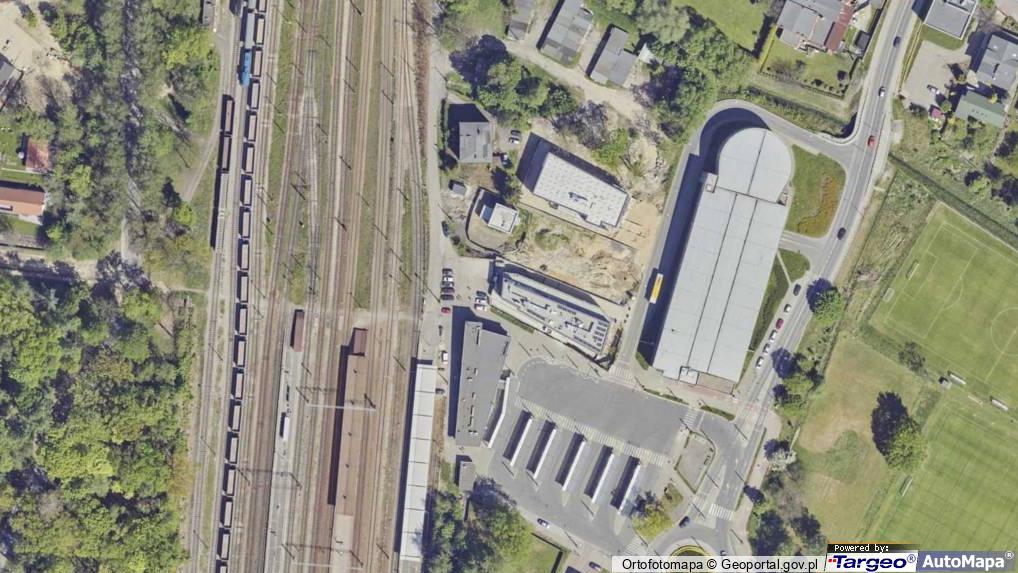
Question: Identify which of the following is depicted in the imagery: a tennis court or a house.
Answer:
house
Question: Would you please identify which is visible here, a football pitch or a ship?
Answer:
football pitch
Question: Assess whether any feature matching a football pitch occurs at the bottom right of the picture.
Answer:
Yes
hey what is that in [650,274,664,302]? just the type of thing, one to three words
vehicle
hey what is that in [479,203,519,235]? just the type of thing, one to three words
house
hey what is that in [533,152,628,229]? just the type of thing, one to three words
building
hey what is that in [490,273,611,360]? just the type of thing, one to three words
building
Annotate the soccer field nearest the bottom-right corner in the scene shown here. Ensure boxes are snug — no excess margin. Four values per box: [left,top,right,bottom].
[862,402,1018,573]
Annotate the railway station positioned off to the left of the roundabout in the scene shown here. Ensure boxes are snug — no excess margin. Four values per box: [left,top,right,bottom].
[264,306,438,573]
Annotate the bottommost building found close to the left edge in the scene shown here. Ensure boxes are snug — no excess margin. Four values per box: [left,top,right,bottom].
[0,188,46,217]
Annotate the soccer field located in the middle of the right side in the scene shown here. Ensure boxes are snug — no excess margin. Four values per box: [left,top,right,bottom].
[870,204,1018,409]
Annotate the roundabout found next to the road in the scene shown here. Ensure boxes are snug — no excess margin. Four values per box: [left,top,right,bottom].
[641,520,736,573]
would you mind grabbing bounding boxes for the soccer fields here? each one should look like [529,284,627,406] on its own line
[862,402,1018,573]
[870,204,1018,409]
